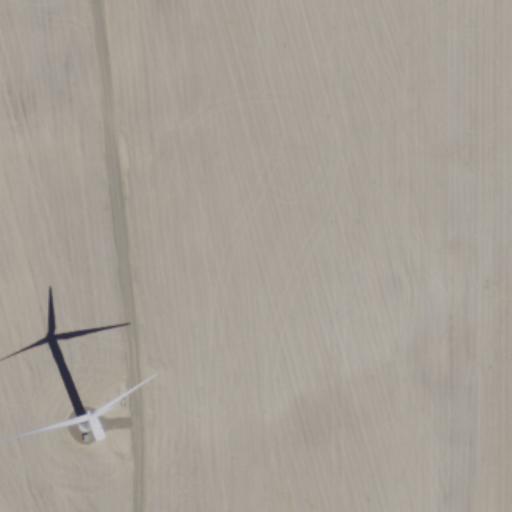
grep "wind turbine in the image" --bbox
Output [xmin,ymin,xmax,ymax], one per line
[0,376,160,441]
